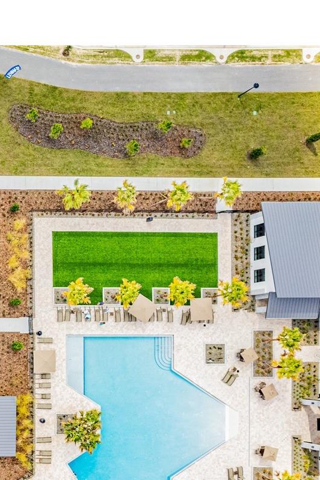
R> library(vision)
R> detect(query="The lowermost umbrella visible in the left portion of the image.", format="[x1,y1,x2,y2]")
[34,351,55,372]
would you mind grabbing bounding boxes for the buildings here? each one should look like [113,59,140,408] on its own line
[251,202,320,318]
[0,396,16,456]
